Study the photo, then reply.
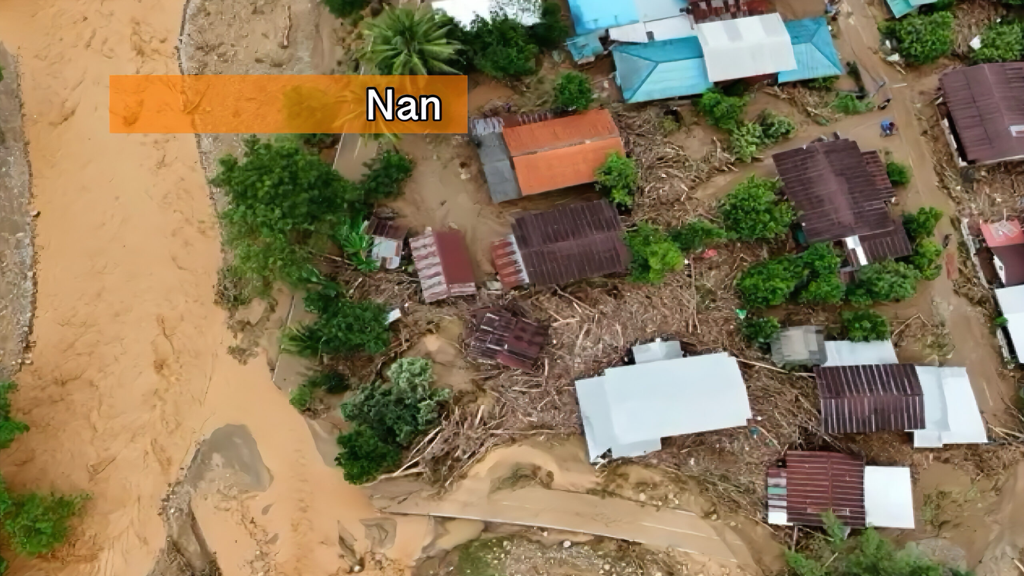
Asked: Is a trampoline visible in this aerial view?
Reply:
No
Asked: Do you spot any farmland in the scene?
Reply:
No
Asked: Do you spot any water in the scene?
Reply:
Yes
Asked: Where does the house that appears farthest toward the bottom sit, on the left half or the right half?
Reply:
right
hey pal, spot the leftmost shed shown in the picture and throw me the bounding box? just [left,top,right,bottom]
[362,218,407,272]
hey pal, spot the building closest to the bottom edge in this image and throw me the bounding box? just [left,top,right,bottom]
[762,452,915,529]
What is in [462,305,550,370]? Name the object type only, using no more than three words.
house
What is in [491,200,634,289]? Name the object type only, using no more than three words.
house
